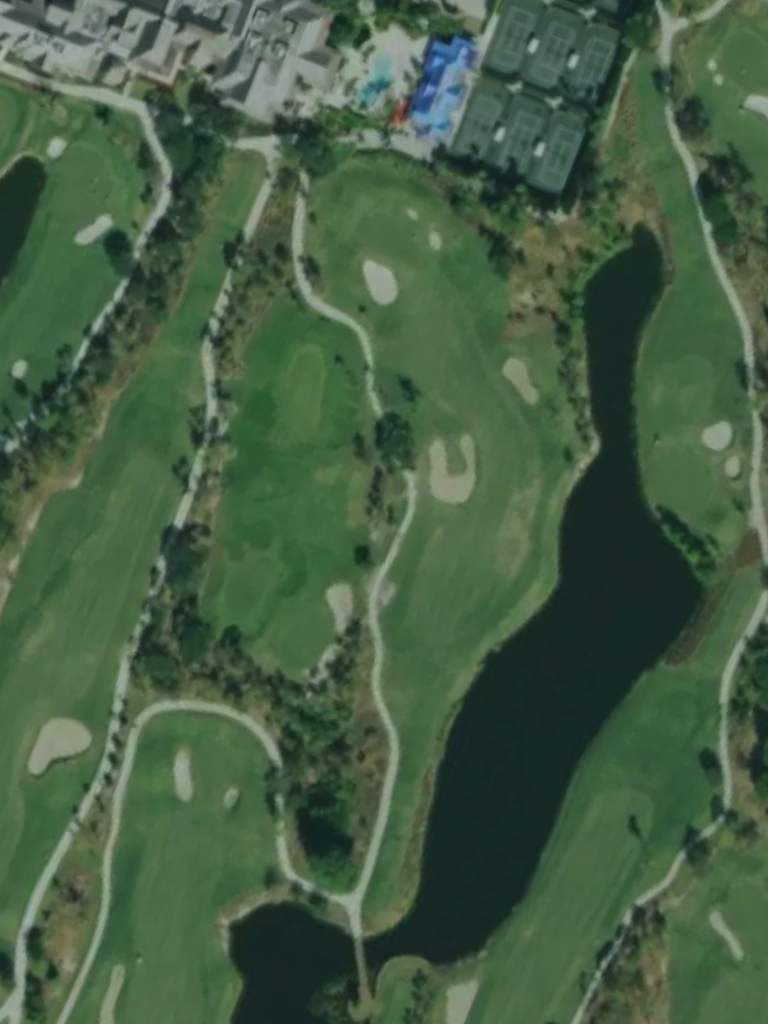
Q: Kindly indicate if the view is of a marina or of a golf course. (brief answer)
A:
golf course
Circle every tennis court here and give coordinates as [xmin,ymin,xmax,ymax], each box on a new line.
[560,0,594,12]
[449,80,513,168]
[527,111,593,203]
[480,0,546,85]
[521,7,586,99]
[561,22,624,115]
[489,96,553,187]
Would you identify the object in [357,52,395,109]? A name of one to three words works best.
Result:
swimming pool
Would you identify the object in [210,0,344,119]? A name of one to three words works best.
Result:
building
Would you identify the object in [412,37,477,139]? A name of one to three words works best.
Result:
building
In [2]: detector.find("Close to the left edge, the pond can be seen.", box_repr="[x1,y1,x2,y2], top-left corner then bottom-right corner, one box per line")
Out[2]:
[0,155,47,283]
